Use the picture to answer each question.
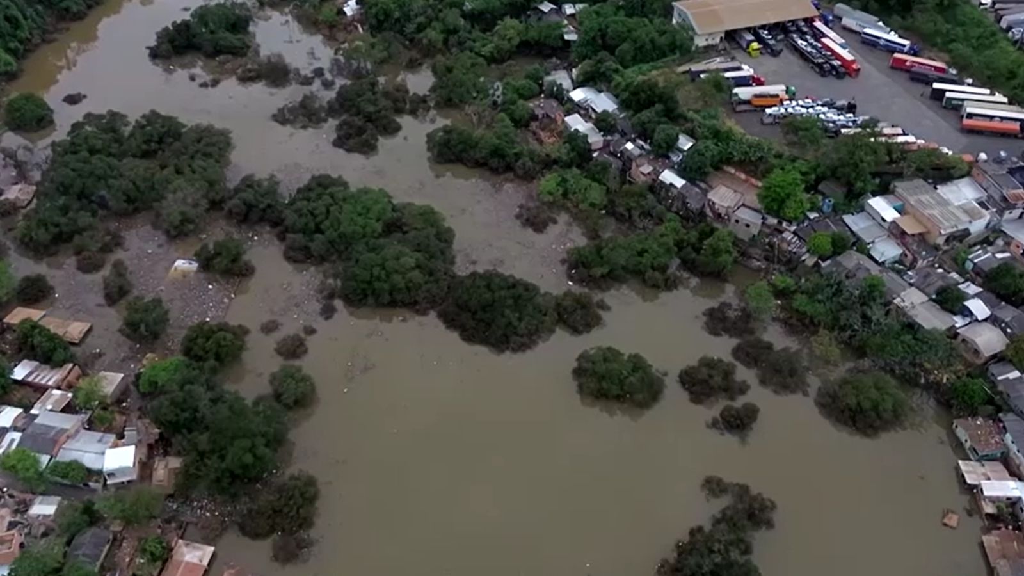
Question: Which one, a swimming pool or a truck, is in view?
truck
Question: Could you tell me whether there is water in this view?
Yes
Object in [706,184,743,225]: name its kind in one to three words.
house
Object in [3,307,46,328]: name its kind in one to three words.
house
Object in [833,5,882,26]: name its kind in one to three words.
truck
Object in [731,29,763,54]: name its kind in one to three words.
truck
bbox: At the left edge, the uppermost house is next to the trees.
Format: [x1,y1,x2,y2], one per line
[0,183,39,215]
